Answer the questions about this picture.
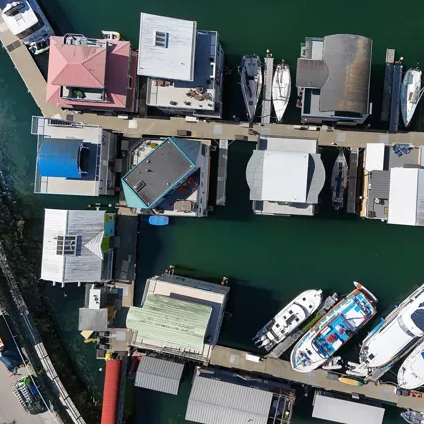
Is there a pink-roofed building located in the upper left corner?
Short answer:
Yes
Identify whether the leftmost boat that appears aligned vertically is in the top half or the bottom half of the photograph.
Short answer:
top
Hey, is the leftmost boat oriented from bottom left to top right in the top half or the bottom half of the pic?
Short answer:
bottom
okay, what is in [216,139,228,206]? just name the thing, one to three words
pier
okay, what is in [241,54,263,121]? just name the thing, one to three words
boat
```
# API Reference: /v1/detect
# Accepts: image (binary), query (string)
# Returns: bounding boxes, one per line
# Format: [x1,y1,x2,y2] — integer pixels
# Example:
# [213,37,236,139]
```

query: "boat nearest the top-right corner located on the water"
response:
[402,68,424,126]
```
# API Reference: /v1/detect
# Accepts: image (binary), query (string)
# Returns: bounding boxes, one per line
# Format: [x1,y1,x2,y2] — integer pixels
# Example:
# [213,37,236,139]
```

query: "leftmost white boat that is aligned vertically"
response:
[272,64,291,121]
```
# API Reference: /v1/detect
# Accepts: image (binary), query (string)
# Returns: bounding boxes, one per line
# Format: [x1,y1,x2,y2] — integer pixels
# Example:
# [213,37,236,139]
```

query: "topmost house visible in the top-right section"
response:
[297,34,372,123]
